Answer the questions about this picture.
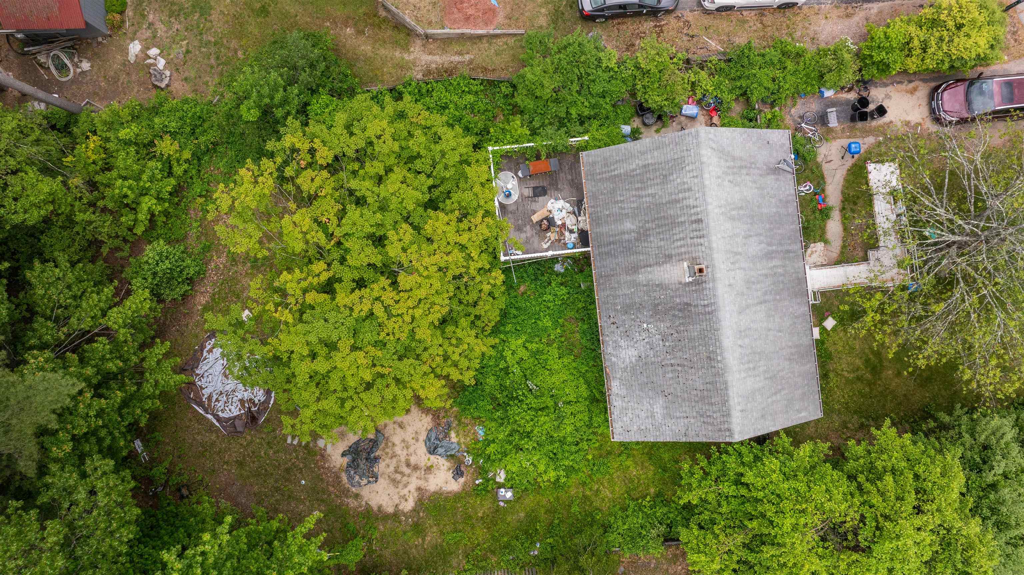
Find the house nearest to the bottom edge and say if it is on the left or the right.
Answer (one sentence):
The house nearest to the bottom edge sits on the right side.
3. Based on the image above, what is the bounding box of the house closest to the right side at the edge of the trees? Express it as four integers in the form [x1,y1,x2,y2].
[579,128,822,443]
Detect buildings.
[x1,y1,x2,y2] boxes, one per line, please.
[579,128,822,443]
[0,0,108,39]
